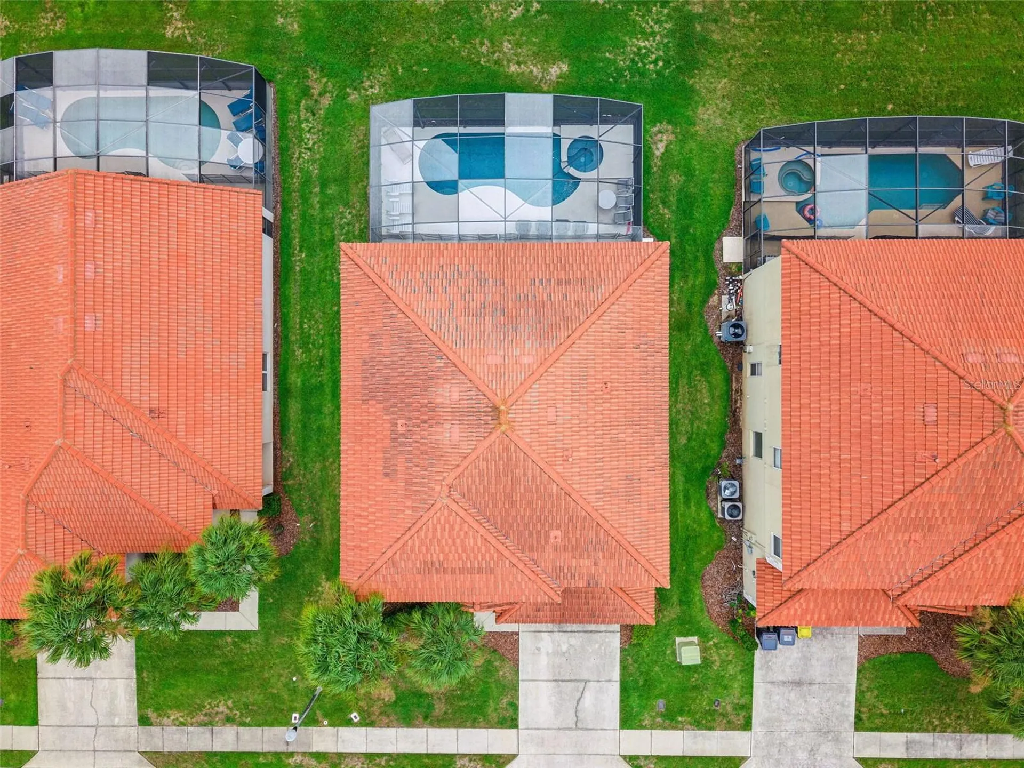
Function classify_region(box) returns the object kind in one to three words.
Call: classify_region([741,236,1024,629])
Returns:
house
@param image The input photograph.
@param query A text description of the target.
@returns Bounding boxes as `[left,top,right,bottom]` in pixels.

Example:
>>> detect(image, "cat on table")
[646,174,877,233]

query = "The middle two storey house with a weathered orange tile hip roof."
[337,239,673,628]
